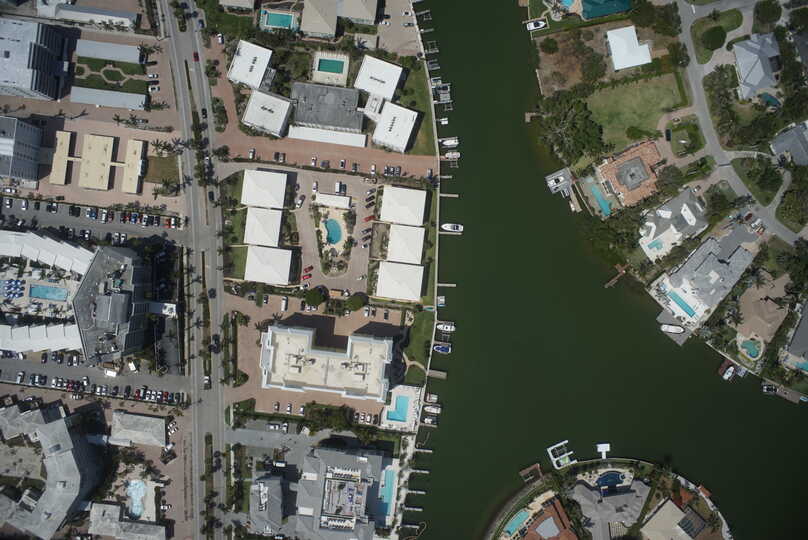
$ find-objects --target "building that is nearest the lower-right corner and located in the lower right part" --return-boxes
[640,500,693,540]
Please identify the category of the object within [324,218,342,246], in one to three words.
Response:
swimming pool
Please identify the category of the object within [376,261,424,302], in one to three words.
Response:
house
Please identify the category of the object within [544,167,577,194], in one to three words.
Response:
pier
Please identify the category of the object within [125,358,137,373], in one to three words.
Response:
vehicle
